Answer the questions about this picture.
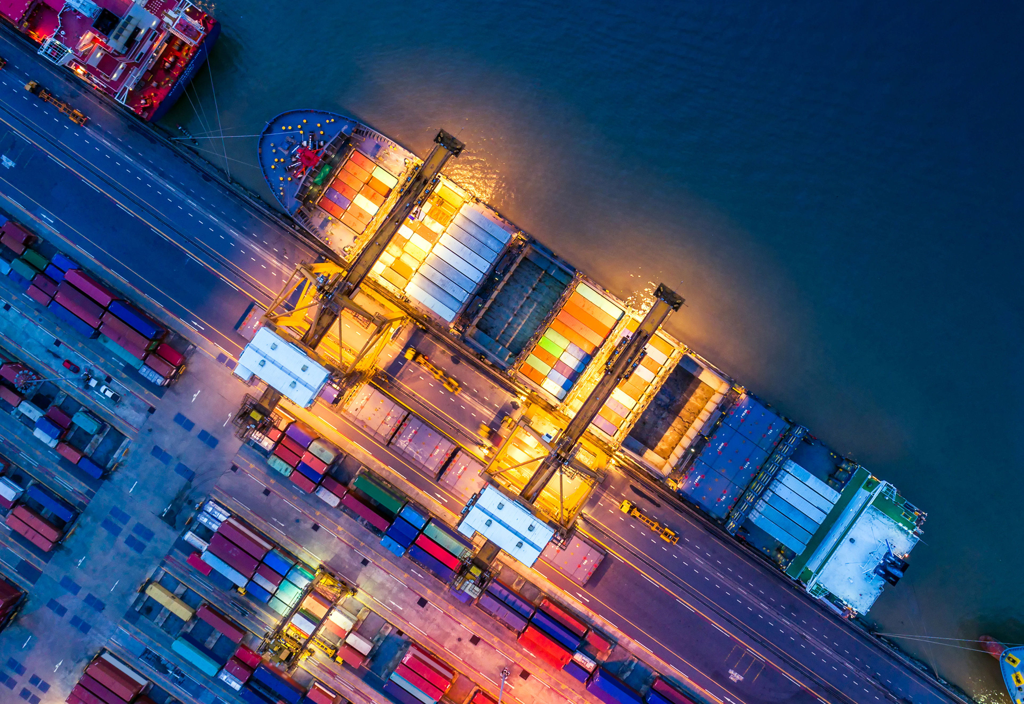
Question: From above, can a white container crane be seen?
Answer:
No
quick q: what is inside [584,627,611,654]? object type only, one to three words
shipping container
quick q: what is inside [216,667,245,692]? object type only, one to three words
shipping container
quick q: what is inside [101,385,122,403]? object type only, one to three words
vehicle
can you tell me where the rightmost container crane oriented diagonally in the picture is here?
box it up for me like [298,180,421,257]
[445,280,693,604]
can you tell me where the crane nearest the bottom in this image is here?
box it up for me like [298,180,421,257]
[241,566,357,687]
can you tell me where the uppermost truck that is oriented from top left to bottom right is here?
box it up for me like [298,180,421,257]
[20,82,86,131]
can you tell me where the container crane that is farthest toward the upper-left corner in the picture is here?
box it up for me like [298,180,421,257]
[224,123,472,448]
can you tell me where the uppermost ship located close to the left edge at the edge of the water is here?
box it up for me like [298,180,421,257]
[0,0,222,120]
